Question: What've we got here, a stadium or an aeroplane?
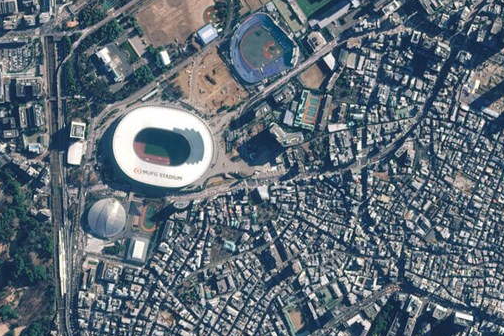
stadium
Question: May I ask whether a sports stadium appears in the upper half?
Yes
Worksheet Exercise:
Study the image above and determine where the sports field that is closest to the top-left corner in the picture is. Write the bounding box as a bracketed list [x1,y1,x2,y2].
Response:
[144,132,182,159]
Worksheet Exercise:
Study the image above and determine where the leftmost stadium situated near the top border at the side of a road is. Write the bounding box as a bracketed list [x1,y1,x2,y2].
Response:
[231,12,299,85]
